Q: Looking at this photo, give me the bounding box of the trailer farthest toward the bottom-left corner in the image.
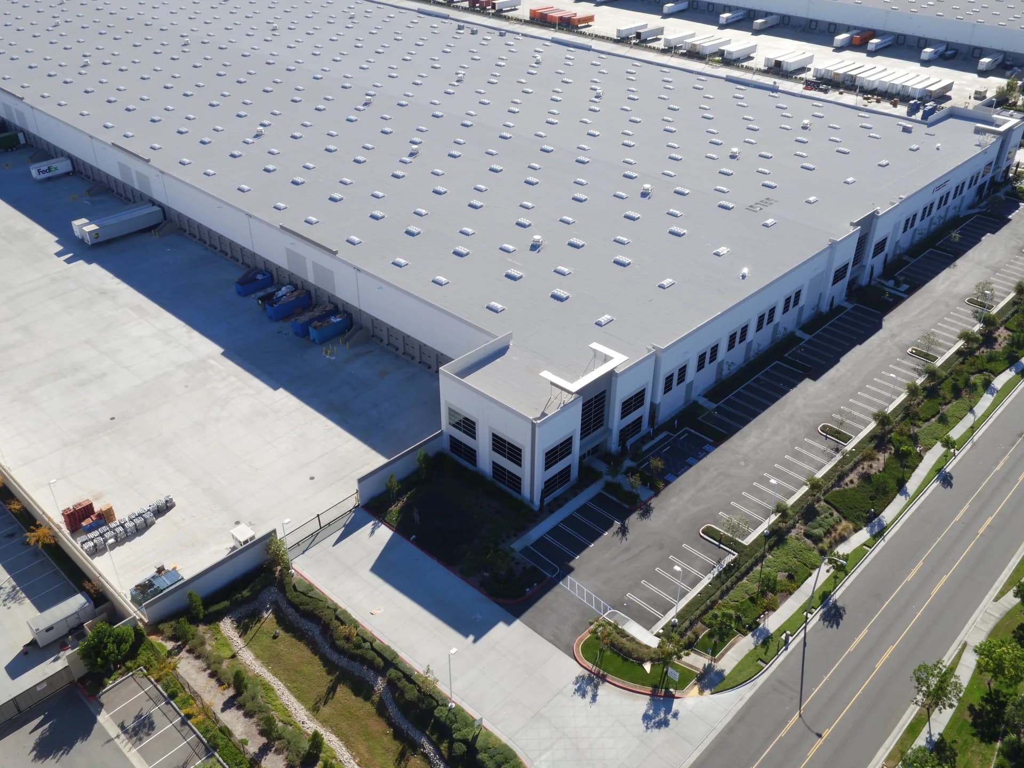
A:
[26,594,96,654]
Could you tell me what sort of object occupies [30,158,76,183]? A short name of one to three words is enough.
trailer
